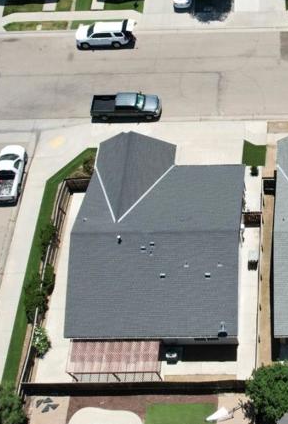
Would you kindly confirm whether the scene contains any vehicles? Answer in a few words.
Yes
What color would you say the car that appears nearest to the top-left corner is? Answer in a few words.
white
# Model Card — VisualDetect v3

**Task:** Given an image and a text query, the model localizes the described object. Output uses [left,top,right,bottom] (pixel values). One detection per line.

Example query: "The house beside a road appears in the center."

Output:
[63,130,246,348]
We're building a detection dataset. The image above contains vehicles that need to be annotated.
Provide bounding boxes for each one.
[72,20,133,51]
[174,0,194,11]
[0,144,26,207]
[90,92,161,121]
